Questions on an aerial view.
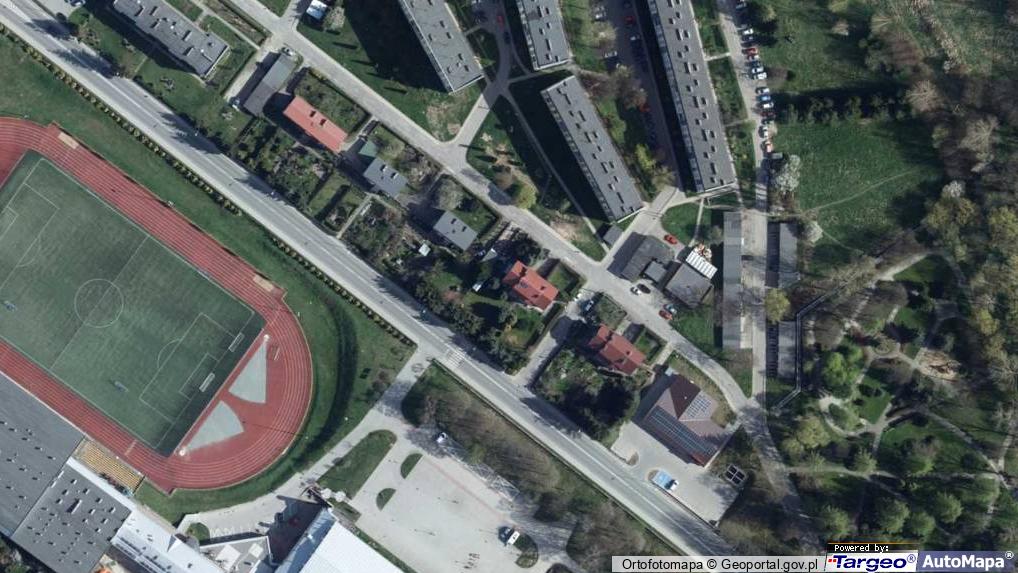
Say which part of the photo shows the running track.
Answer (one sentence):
The running track is located in the left region of the scene.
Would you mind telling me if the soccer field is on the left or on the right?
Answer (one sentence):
The soccer field is on the left side of the image.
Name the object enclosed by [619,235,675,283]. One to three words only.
building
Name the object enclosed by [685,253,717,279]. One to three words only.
building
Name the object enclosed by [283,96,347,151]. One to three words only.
house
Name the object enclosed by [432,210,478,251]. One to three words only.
house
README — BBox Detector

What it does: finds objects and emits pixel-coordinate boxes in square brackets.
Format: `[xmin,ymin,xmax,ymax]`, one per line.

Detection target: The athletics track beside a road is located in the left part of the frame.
[0,115,313,501]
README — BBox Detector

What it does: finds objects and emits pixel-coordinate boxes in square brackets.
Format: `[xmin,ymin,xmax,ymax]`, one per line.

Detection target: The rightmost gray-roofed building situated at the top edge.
[644,0,736,192]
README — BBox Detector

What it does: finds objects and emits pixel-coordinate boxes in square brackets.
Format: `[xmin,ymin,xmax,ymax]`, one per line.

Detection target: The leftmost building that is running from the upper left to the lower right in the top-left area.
[108,0,229,79]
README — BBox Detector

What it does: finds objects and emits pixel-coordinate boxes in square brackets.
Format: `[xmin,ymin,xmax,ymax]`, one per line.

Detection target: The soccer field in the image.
[0,147,267,459]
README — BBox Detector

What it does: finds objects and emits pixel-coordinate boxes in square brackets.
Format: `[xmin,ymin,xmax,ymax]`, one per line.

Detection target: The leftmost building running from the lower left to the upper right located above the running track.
[243,54,293,116]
